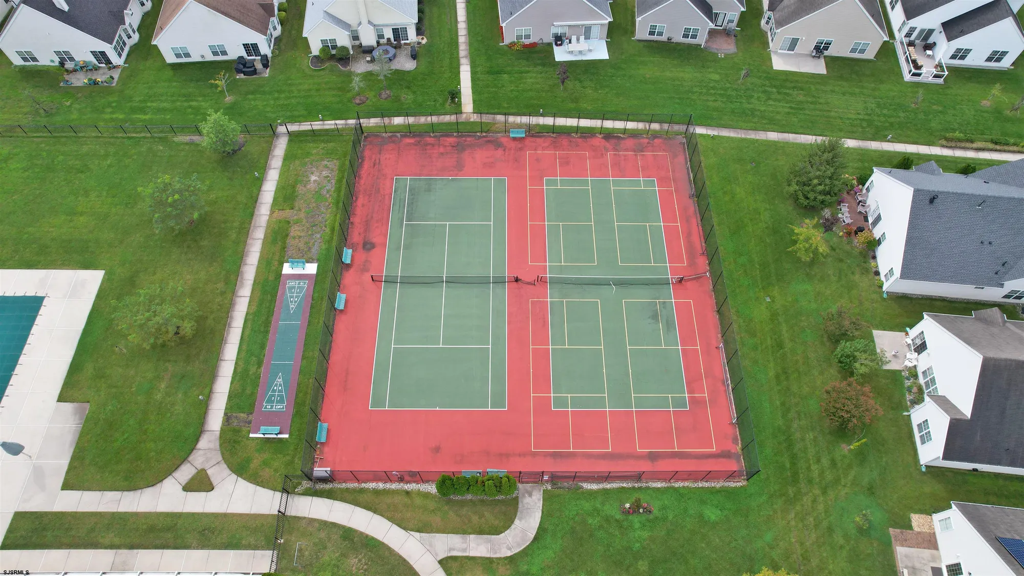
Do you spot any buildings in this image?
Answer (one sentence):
Yes, looking at the shot, I can spot a building.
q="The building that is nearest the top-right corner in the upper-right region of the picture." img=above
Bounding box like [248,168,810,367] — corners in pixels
[888,0,1024,72]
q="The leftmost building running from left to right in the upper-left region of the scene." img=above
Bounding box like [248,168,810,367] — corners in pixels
[0,0,156,66]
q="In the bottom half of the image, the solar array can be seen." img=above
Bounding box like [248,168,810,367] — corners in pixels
[999,540,1024,569]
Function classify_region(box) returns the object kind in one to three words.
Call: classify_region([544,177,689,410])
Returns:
tennis court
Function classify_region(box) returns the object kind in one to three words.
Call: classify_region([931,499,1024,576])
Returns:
house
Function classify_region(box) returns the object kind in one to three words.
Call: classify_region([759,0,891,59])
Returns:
house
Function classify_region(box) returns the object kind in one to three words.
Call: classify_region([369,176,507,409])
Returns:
tennis court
